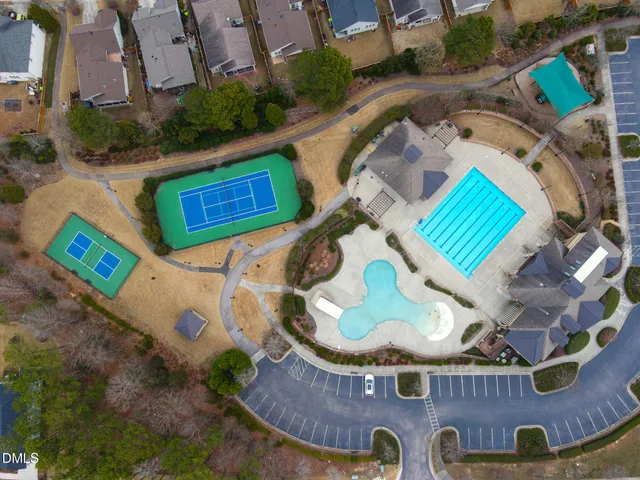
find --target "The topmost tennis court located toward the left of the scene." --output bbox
[149,149,302,249]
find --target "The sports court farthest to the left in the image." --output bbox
[41,212,141,300]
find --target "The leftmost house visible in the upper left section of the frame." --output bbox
[0,10,45,82]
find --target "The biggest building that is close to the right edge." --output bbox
[502,226,624,366]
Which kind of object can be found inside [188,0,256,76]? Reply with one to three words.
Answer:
house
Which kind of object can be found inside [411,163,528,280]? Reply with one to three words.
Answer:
swimming pool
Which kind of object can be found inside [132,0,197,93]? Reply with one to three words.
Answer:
house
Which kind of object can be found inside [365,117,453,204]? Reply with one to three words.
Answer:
building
